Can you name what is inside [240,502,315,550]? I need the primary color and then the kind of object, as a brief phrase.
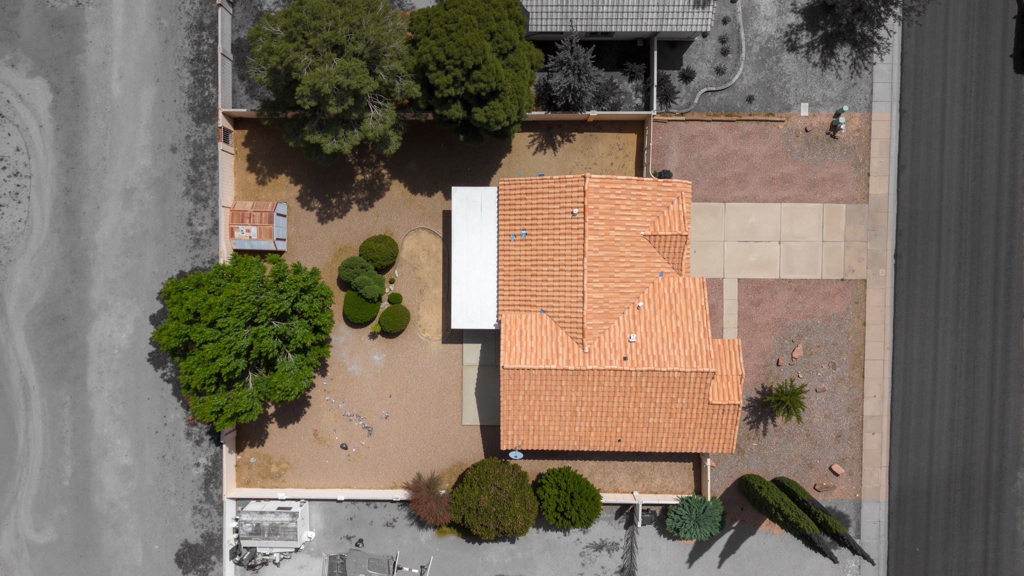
white vehicle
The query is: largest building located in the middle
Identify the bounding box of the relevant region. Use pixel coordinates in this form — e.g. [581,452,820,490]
[497,174,745,453]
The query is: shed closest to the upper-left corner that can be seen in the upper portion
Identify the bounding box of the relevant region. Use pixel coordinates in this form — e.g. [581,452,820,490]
[229,201,286,250]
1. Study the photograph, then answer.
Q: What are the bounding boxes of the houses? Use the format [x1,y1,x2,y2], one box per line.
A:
[497,174,745,453]
[523,0,714,43]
